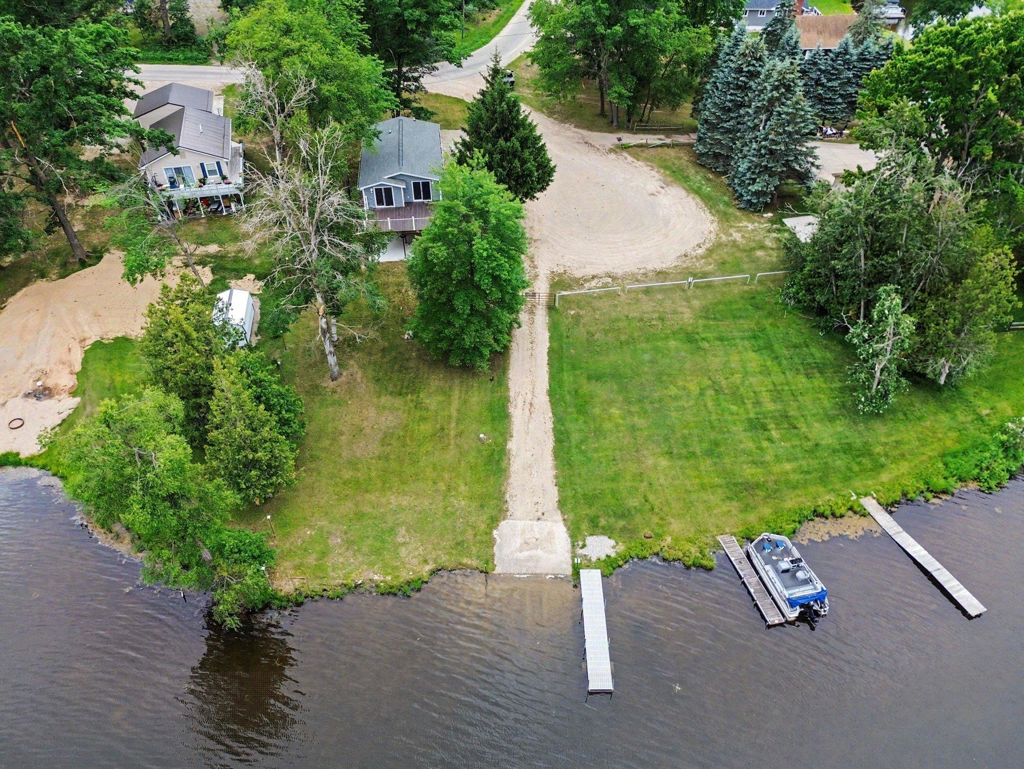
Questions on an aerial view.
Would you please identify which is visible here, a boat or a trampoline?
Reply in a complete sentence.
There is a boat in the scene.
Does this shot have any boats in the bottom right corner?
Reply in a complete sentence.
Yes, I can see a boat in the bottom right corner.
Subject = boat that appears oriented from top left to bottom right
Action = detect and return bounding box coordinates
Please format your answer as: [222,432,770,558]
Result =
[748,533,834,629]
